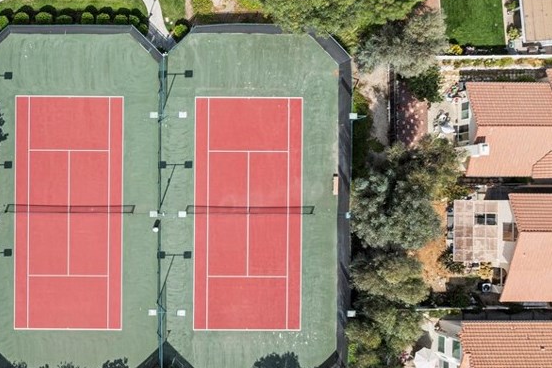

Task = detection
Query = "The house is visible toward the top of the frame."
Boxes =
[446,83,552,179]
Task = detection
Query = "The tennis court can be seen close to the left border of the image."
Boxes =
[0,35,161,368]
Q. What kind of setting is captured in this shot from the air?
sports ground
